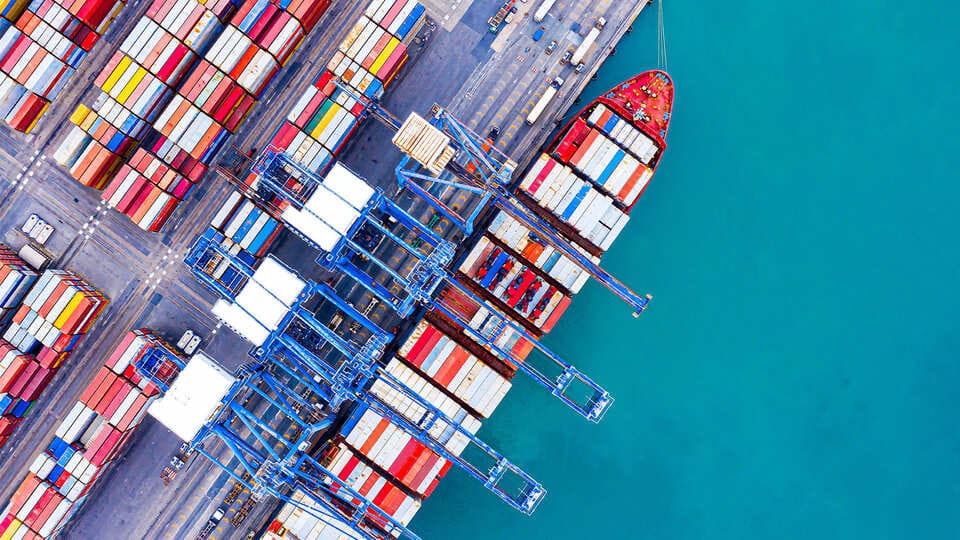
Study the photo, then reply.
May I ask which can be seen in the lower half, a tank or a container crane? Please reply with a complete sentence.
What appears in the lower half is a container crane.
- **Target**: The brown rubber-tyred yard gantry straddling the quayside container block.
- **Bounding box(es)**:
[213,138,300,212]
